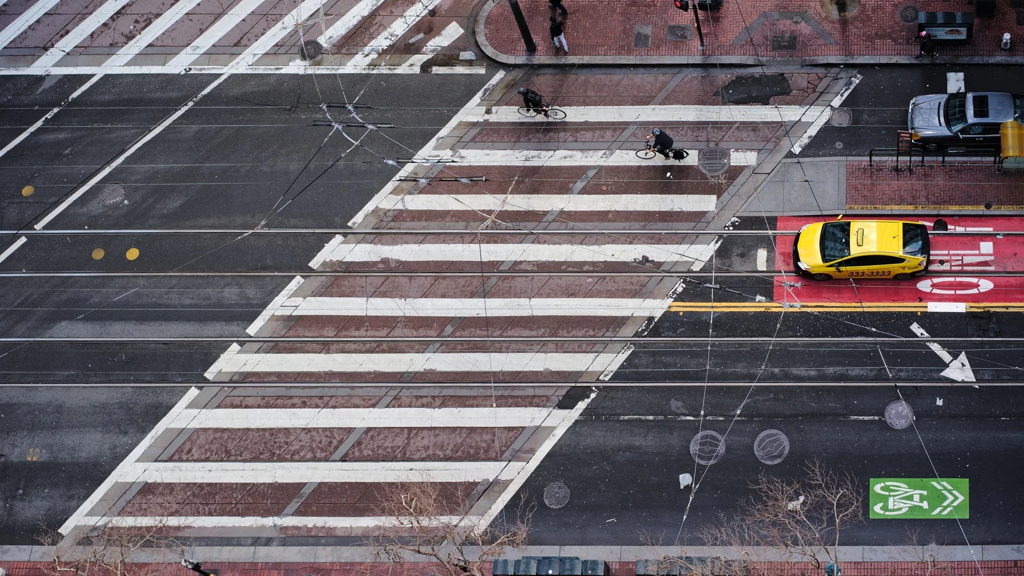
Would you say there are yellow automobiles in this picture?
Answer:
Yes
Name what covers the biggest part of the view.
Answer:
paved ground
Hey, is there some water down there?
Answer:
No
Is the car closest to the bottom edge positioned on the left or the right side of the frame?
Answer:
right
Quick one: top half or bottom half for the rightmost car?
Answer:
top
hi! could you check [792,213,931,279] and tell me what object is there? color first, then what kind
yellow car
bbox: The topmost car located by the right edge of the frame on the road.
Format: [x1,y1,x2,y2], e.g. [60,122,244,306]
[907,86,1024,150]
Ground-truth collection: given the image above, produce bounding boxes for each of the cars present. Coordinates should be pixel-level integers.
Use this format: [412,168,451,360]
[792,213,931,279]
[907,86,1024,150]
